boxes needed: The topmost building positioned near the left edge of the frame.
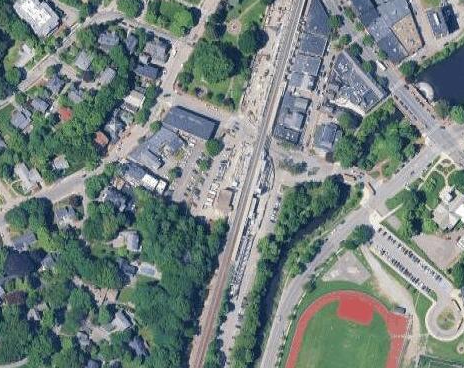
[14,0,61,37]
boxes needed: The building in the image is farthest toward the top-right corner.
[428,5,451,37]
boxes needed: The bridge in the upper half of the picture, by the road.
[232,0,306,206]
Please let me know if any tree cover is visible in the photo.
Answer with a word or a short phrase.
Yes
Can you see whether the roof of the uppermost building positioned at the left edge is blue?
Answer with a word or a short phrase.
No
